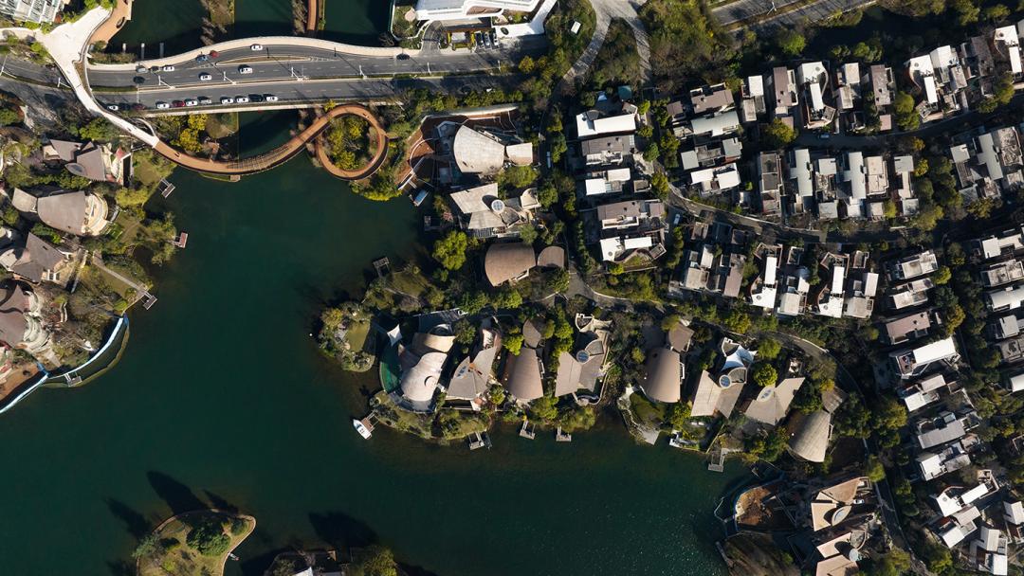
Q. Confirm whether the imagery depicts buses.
No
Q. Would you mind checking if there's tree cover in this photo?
Yes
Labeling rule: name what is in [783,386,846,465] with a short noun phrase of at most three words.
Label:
house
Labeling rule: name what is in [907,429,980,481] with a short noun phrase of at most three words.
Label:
house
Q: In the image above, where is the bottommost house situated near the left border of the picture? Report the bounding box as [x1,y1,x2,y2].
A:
[0,284,72,374]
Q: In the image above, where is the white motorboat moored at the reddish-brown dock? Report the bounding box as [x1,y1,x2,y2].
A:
[354,420,370,440]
